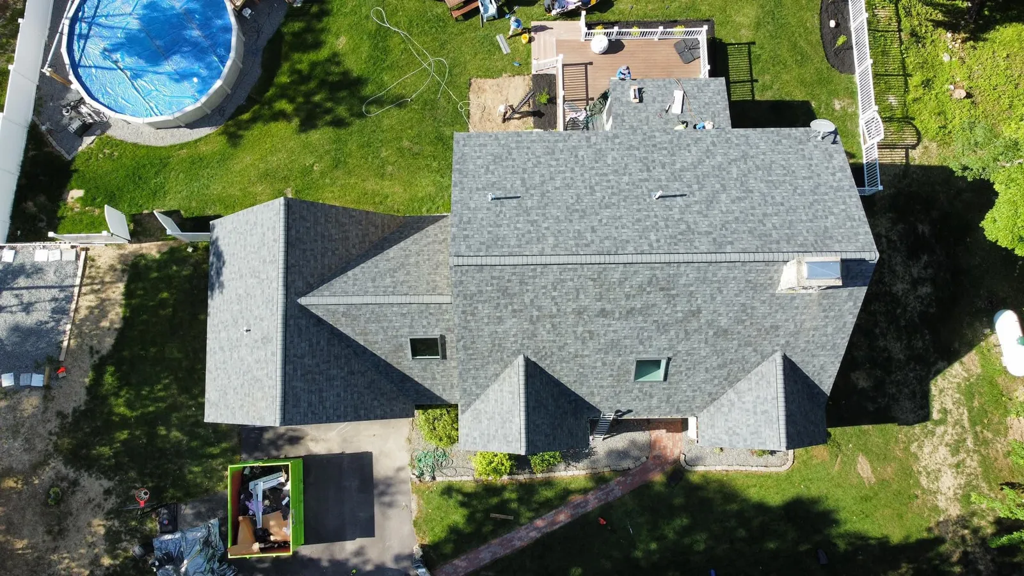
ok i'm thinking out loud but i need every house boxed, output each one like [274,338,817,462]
[203,78,879,455]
